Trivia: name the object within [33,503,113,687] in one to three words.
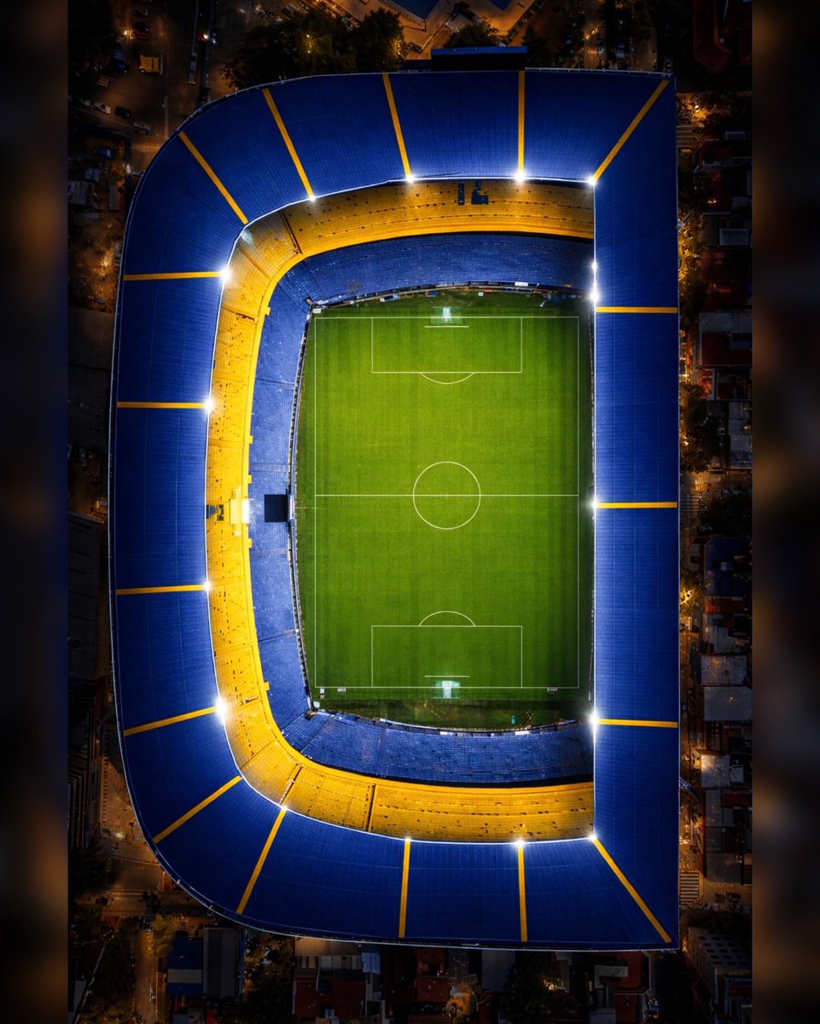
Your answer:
house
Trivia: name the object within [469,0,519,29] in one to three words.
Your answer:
building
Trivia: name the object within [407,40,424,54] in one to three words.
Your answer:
car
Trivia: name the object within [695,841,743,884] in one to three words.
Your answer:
house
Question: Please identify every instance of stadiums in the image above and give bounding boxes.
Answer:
[107,43,678,953]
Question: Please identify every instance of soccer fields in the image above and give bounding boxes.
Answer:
[298,291,593,722]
